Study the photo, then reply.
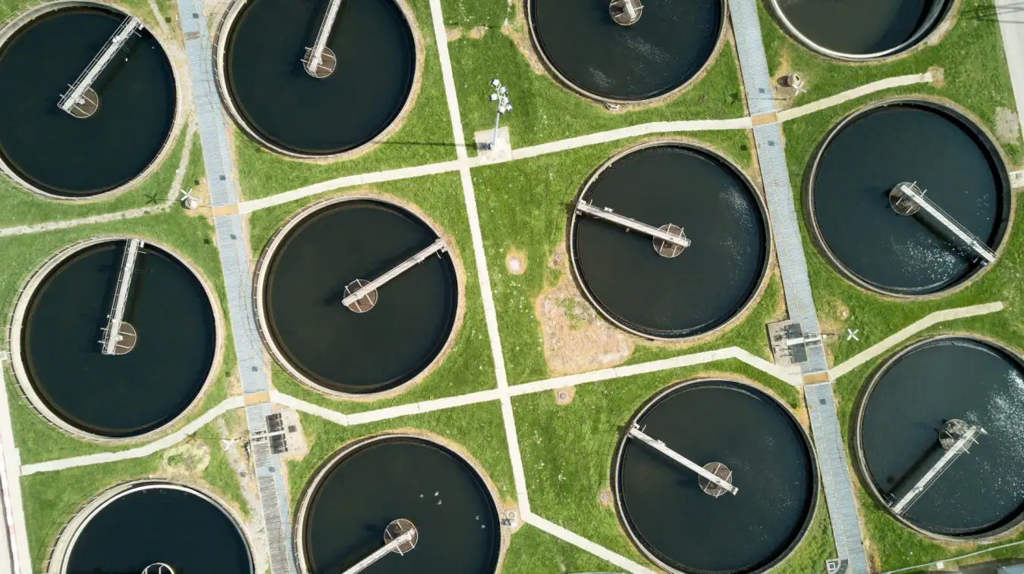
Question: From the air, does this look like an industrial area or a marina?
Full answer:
This looks like an industrial area.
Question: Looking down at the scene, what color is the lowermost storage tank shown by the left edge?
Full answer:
The lowermost storage tank shown by the left edge is black.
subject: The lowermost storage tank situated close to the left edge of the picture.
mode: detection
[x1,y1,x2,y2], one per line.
[46,477,260,574]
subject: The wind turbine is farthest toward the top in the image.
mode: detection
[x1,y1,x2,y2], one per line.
[788,78,812,98]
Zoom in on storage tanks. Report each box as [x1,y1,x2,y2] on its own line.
[528,0,729,105]
[0,0,182,201]
[6,235,220,443]
[254,193,461,398]
[295,435,503,574]
[810,96,1013,297]
[214,0,420,160]
[771,0,955,60]
[46,477,260,574]
[570,138,774,341]
[616,379,822,574]
[860,337,1024,541]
